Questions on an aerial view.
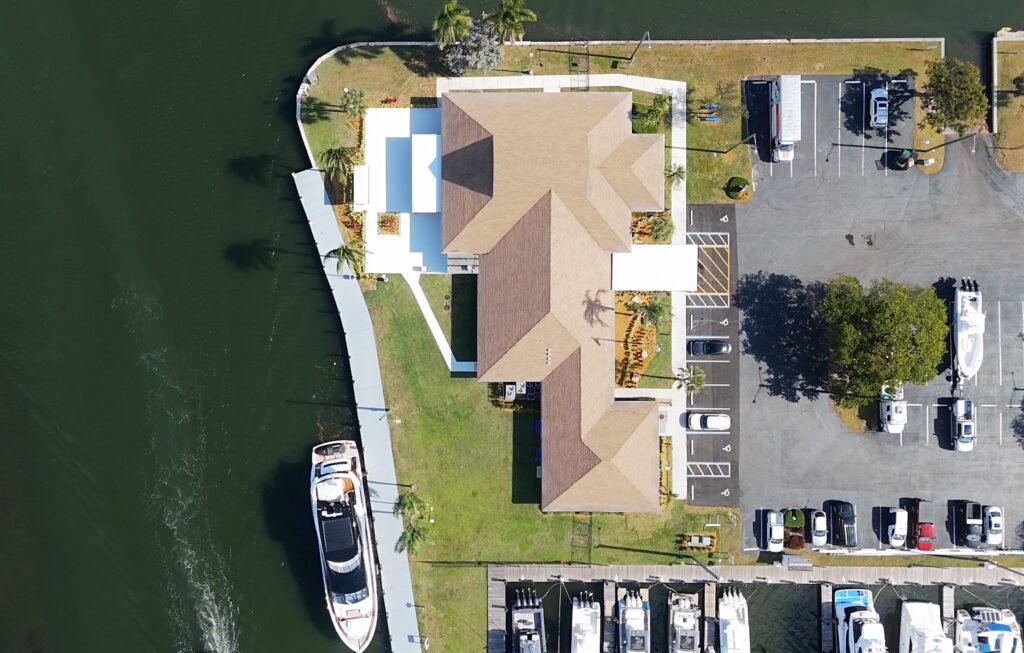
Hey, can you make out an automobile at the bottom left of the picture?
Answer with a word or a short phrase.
No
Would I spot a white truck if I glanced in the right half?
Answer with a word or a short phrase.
Yes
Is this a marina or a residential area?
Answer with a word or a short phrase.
marina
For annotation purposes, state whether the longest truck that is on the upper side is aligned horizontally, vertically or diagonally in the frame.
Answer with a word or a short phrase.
vertically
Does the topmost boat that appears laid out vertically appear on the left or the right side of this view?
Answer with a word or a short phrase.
right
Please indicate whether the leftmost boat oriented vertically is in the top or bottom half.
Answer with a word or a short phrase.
bottom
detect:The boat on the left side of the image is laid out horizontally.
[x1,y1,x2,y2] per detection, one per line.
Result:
[318,446,347,459]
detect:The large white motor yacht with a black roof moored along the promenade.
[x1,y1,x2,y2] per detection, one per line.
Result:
[311,439,382,653]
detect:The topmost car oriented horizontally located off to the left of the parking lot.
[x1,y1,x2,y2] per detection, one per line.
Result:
[690,338,731,358]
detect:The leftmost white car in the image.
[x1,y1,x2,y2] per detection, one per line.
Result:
[688,413,731,434]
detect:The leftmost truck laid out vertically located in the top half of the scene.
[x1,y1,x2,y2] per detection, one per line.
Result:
[769,74,801,164]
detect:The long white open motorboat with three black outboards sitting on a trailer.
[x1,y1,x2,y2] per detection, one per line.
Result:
[953,275,986,386]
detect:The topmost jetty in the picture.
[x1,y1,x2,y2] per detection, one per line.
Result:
[506,566,1024,587]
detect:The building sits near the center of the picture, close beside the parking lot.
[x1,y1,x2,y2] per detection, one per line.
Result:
[440,91,665,513]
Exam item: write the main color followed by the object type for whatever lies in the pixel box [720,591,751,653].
white boat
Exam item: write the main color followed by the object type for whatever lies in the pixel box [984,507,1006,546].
white car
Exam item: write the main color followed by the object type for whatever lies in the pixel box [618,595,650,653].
white boat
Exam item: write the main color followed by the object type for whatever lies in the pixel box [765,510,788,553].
white truck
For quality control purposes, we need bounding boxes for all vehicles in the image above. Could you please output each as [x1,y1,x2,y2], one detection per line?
[868,88,892,128]
[962,501,987,549]
[690,338,731,358]
[688,413,731,434]
[765,510,788,553]
[878,383,905,433]
[885,508,910,547]
[913,497,939,550]
[833,501,859,551]
[984,507,1006,546]
[769,74,801,164]
[809,511,830,547]
[951,399,977,451]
